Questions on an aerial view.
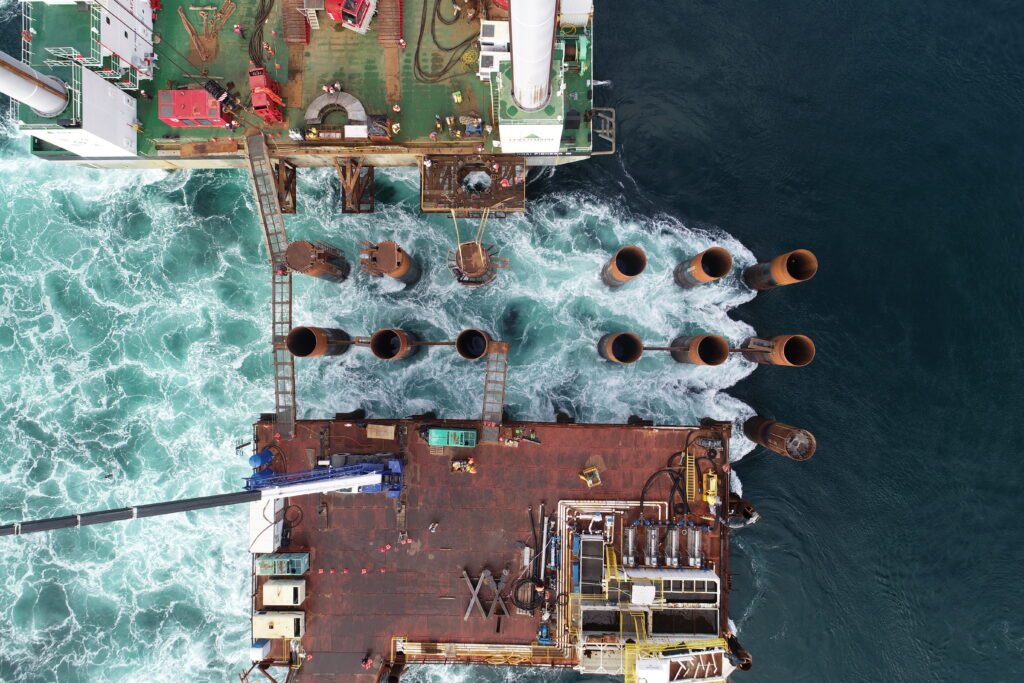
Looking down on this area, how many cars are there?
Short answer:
0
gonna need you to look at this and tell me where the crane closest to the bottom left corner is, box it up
[0,451,406,537]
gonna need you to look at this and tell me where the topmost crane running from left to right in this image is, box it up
[283,0,407,49]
